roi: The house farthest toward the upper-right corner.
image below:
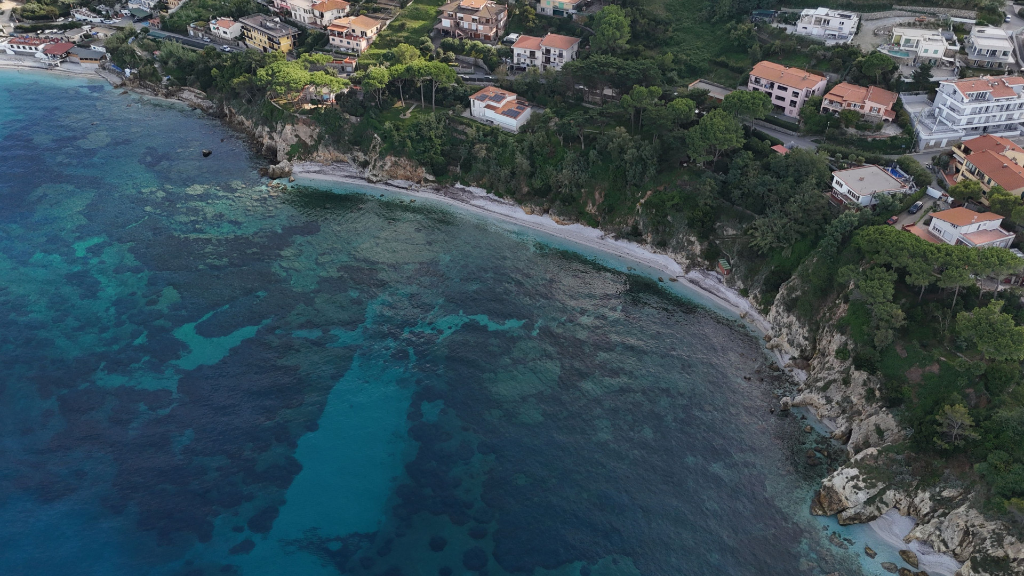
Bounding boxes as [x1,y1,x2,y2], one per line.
[969,23,1014,68]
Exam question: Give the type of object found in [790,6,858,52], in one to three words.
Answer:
house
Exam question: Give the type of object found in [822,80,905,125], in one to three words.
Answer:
house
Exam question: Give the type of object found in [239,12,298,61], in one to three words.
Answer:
building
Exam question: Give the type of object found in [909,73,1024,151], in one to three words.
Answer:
building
